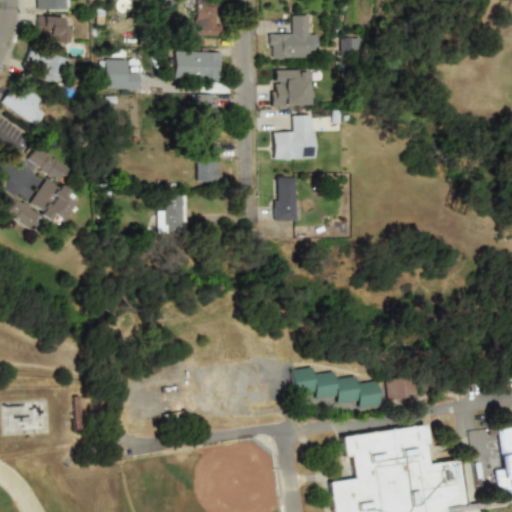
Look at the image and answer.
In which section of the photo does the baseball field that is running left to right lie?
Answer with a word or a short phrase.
bottom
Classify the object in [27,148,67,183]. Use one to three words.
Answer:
building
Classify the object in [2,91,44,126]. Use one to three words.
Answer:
house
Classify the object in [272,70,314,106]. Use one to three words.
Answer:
house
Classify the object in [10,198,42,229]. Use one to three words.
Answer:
building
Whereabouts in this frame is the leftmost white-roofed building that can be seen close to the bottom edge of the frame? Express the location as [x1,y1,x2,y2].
[331,426,469,512]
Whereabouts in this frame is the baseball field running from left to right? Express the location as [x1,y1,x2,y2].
[129,440,280,512]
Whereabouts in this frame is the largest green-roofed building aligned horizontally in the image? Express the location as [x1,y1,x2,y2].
[292,367,384,412]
